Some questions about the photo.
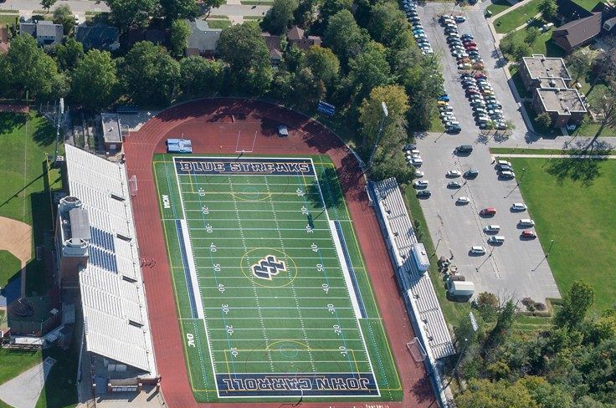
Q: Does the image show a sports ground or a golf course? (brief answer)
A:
sports ground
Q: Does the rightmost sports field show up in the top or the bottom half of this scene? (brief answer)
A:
bottom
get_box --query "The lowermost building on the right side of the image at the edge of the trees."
[517,52,588,132]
